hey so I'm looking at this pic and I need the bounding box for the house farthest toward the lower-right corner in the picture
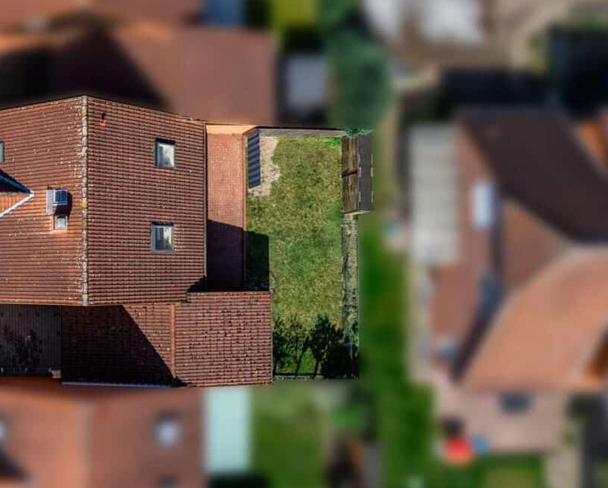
[420,111,608,392]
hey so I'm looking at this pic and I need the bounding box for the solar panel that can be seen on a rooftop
[46,189,65,205]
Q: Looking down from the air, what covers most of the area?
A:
buildings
